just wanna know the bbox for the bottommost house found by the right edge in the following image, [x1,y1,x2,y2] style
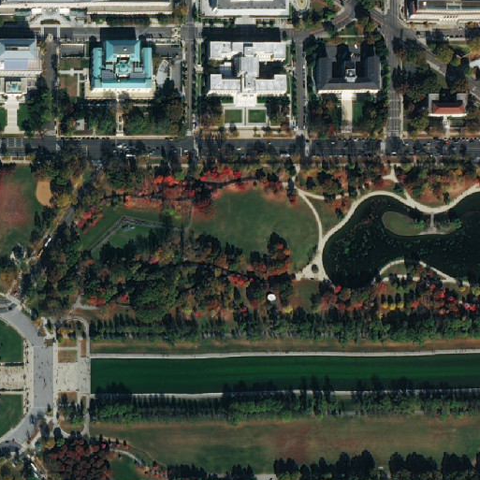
[428,93,467,127]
